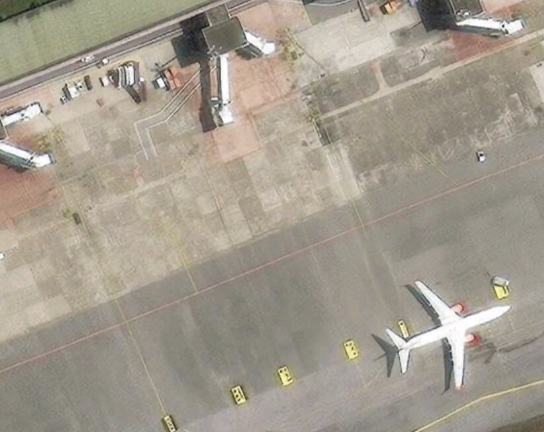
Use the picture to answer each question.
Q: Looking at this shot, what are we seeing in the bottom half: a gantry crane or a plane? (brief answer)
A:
plane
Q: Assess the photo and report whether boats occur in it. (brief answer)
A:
No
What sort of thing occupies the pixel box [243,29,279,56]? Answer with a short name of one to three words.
jet bridge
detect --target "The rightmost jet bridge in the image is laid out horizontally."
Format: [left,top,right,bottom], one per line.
[454,18,526,36]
